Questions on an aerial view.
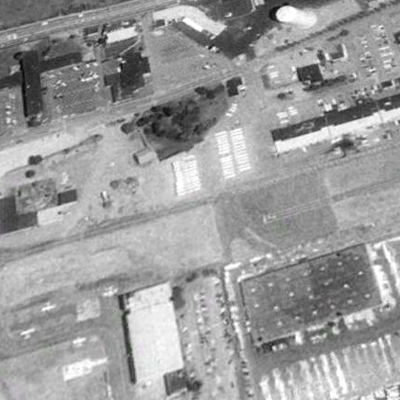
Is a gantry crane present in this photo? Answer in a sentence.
No, there is no gantry crane in the image.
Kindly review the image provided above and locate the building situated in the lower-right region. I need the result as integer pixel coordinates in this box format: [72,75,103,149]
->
[240,244,382,346]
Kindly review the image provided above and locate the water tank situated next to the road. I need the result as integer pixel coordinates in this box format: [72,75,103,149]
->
[282,7,312,33]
